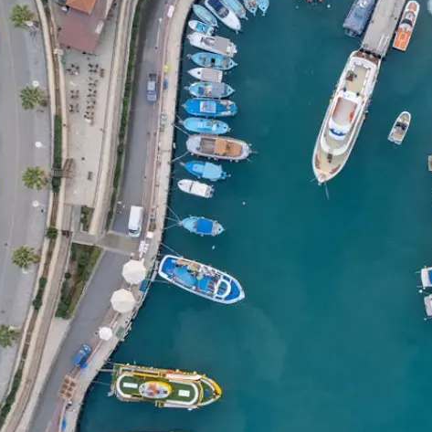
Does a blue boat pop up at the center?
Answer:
Yes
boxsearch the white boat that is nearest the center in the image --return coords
[170,178,217,198]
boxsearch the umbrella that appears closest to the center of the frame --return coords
[123,260,147,283]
